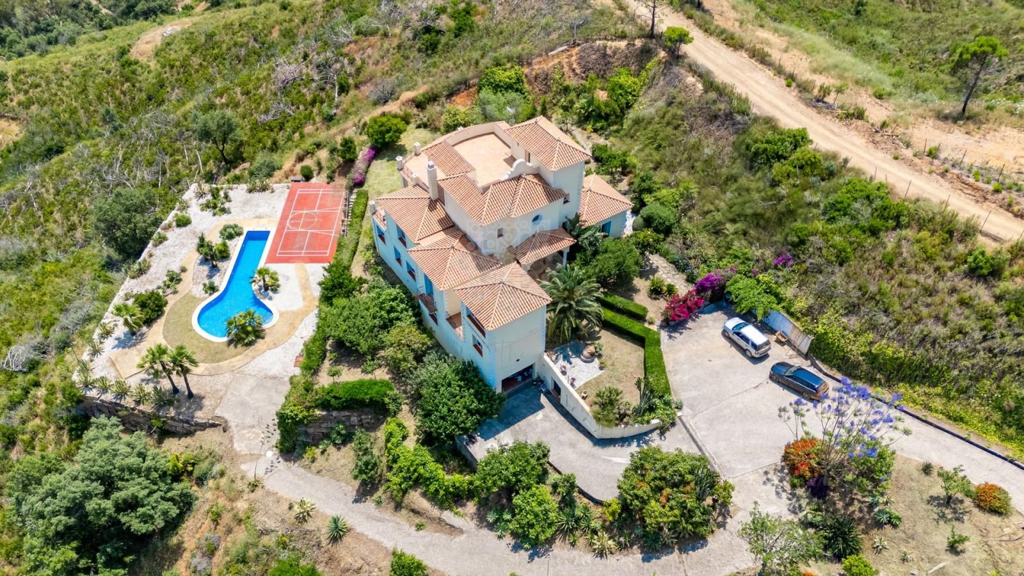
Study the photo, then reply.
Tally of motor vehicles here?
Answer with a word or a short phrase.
2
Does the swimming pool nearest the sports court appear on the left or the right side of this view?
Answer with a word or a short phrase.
left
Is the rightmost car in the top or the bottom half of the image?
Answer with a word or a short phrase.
bottom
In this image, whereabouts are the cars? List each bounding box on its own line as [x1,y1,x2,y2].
[767,359,829,402]
[722,318,773,360]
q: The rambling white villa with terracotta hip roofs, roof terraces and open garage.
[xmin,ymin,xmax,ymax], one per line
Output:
[369,116,634,398]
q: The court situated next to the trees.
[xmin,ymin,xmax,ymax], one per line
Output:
[266,182,345,264]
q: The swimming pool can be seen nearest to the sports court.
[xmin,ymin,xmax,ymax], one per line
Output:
[191,220,280,343]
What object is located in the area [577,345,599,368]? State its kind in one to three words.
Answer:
fountain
